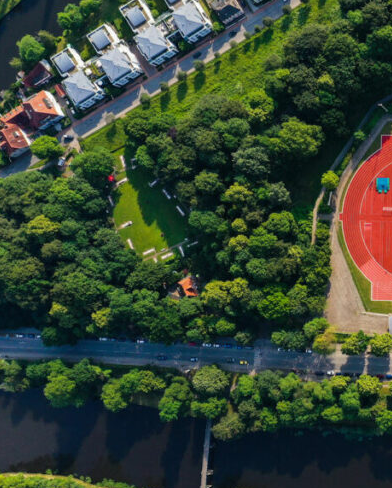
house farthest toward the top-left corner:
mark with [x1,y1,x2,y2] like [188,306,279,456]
[21,60,56,89]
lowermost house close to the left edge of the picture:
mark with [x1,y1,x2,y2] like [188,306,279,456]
[0,123,36,154]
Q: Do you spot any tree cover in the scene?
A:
Yes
